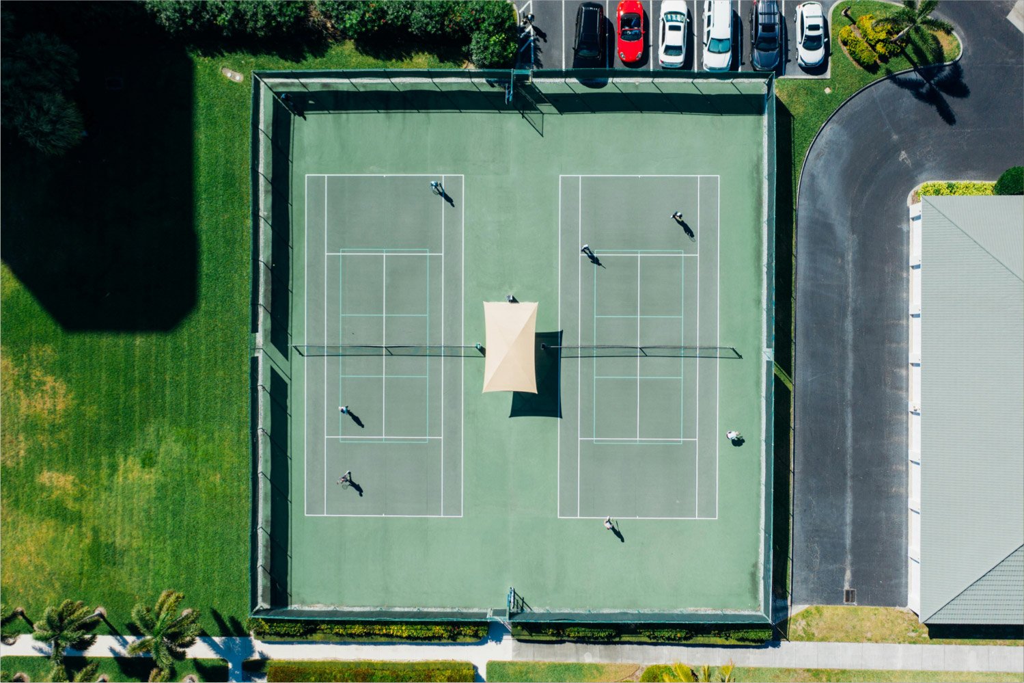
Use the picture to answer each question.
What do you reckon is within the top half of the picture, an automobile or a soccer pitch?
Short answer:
automobile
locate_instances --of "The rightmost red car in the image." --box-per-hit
[614,0,647,61]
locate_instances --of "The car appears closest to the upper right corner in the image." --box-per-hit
[794,0,829,67]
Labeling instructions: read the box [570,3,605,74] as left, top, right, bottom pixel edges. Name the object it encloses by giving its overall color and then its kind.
black car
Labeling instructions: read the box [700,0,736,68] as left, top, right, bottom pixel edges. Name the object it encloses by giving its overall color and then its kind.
white car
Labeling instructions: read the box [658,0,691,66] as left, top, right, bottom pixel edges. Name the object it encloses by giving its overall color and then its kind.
white car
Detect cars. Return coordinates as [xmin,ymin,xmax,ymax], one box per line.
[794,0,829,67]
[748,0,783,68]
[614,0,647,61]
[658,0,691,66]
[570,3,605,74]
[700,0,736,68]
